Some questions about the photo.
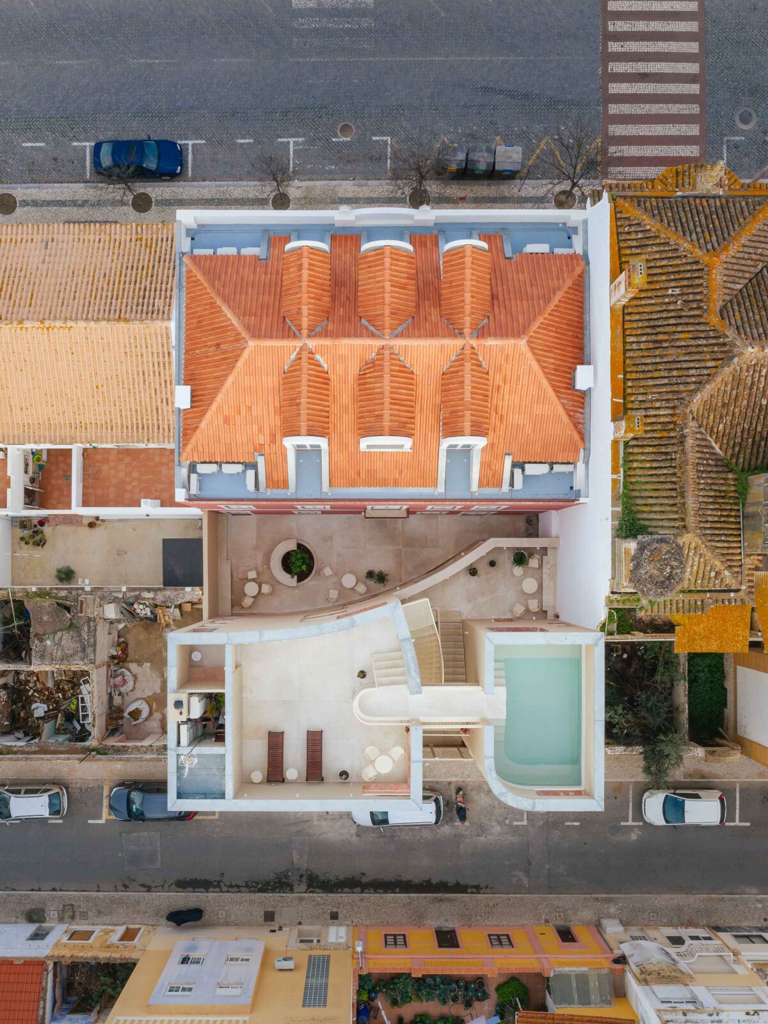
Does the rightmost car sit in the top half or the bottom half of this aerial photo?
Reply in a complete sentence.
You can find the rightmost car in the bottom half.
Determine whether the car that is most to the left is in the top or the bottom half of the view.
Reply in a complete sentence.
It is in the bottom half that the car that is most to the left appears.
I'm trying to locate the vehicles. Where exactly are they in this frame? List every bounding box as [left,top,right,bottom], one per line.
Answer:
[0,780,70,820]
[352,787,445,833]
[454,786,470,824]
[639,785,728,832]
[109,779,199,826]
[94,134,185,183]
